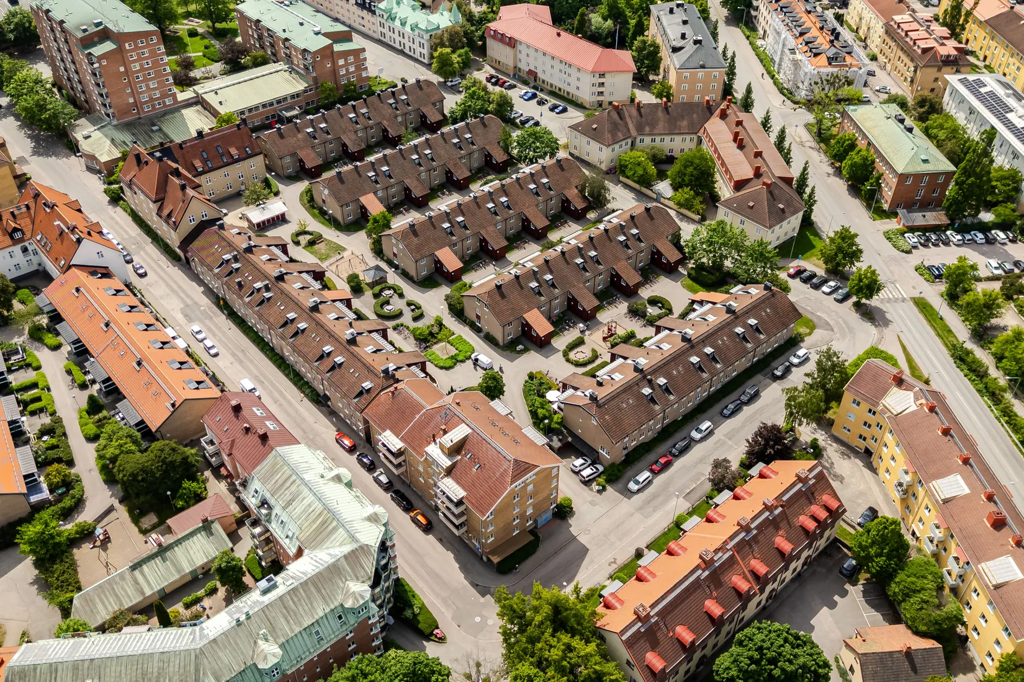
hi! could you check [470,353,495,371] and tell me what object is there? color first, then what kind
white vehicle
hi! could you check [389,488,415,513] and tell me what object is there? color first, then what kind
black car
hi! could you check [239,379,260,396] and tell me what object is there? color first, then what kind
white vehicle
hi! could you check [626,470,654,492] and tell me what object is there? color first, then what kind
white car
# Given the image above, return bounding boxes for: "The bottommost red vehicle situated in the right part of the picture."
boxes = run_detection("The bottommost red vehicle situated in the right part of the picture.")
[649,453,675,474]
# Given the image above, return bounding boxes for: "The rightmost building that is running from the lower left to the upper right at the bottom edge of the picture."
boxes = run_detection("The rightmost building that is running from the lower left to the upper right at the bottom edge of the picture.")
[585,460,845,682]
